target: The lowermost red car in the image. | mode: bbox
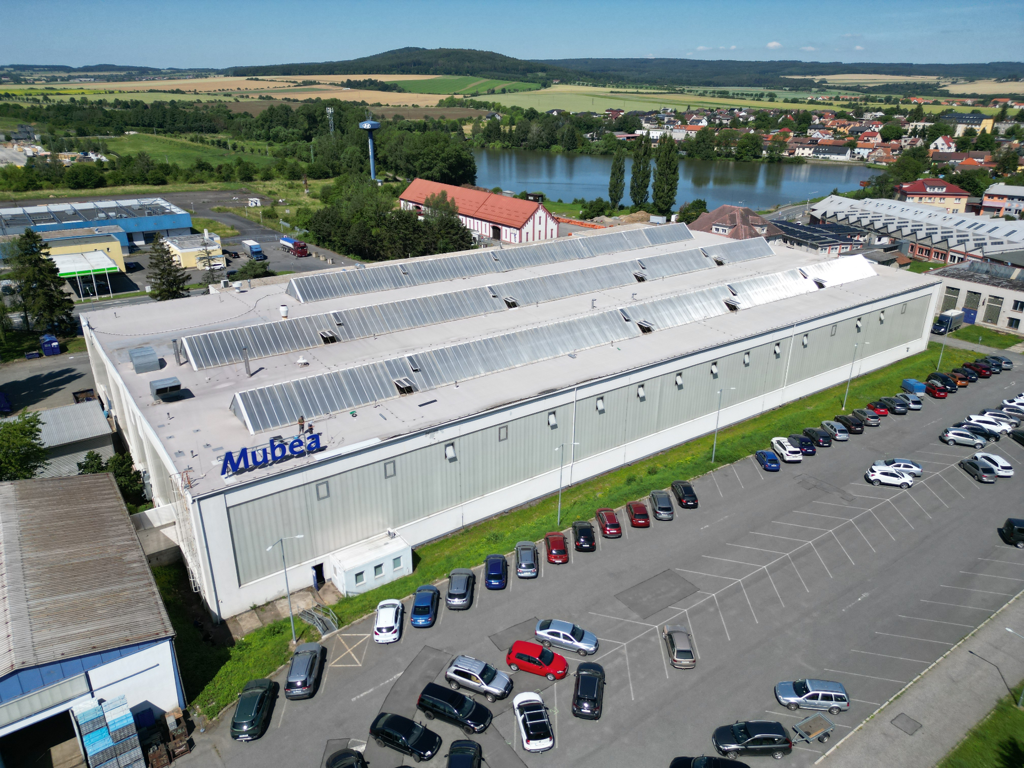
[503,640,568,680]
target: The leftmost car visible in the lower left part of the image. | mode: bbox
[231,674,283,738]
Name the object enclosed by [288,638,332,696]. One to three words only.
car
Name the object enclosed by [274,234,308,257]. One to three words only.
truck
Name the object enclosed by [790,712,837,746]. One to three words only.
trailer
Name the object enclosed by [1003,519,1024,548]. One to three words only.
vehicle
